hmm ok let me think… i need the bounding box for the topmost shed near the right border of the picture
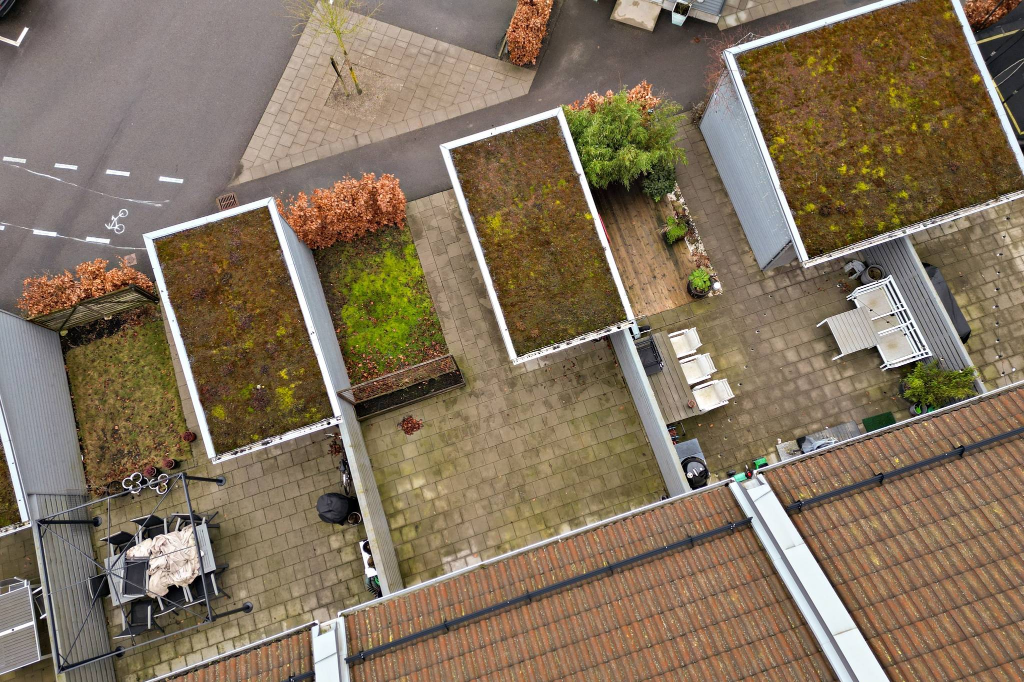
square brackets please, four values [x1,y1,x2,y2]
[698,0,1024,275]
